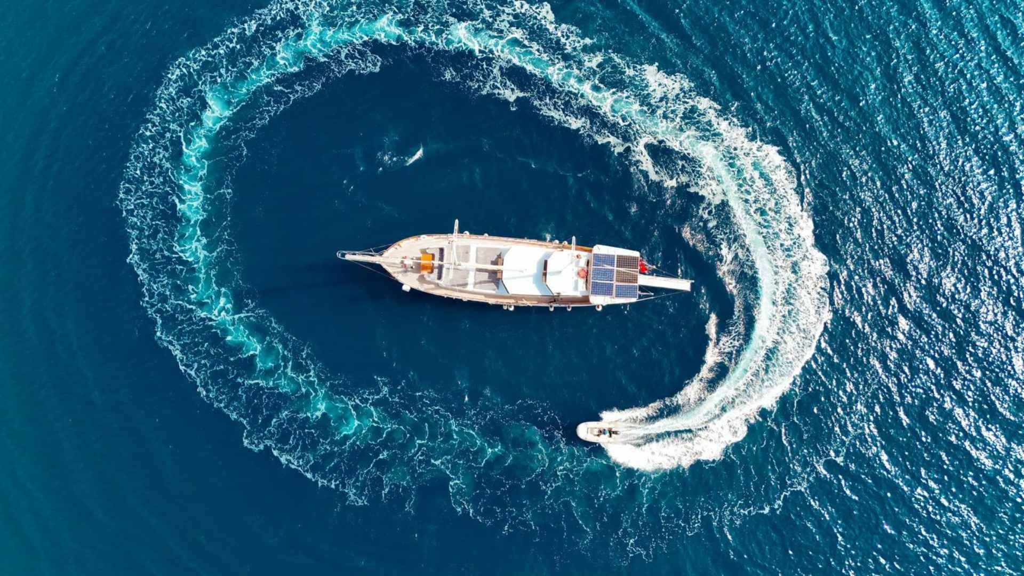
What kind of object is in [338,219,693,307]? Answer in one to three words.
ship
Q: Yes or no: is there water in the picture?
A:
Yes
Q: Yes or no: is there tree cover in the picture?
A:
No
